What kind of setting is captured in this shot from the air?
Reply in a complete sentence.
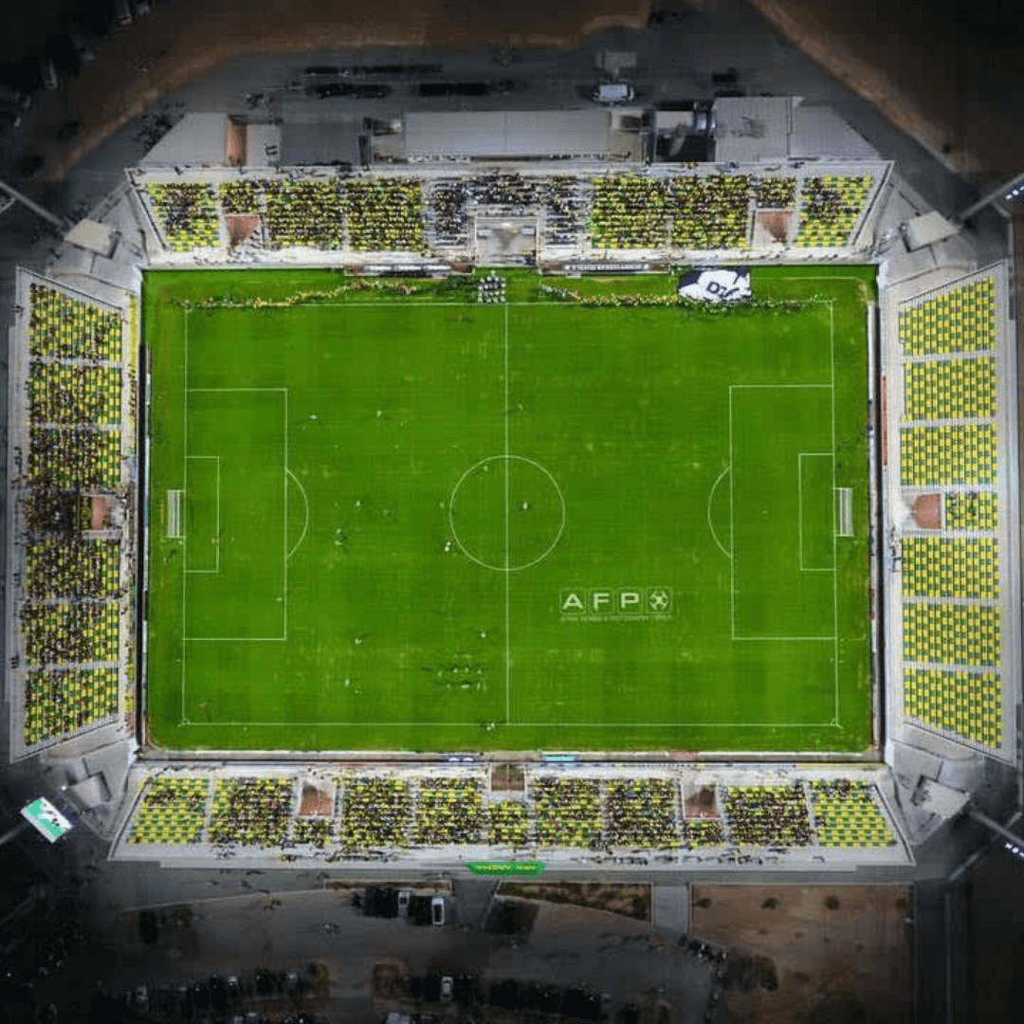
The area seen from above is a sports ground.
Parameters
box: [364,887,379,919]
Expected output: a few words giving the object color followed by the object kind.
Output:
black car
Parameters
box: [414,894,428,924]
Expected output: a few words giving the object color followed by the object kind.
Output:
black car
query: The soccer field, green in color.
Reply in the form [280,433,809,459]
[144,268,877,752]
